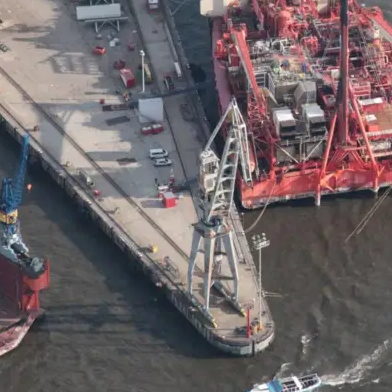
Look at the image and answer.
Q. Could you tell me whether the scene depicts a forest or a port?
port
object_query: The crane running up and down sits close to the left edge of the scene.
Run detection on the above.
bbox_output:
[0,137,40,271]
